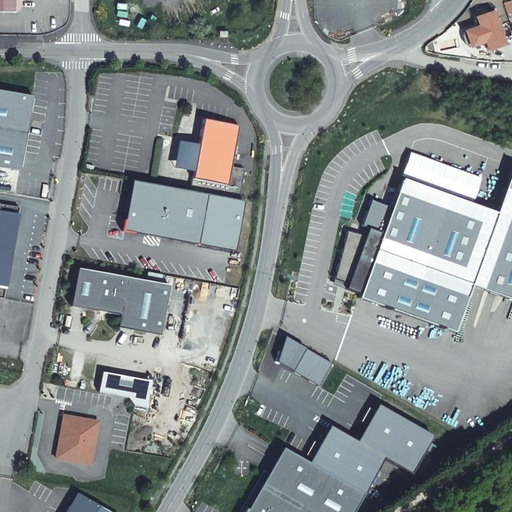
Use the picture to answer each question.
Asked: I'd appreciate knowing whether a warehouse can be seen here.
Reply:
Yes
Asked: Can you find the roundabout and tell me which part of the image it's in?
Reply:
top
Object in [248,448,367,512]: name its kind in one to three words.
building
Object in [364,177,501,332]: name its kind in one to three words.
warehouse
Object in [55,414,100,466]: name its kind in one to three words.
house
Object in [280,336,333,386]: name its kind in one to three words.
shed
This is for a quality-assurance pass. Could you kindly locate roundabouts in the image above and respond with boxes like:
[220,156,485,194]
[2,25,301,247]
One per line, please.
[252,37,345,130]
